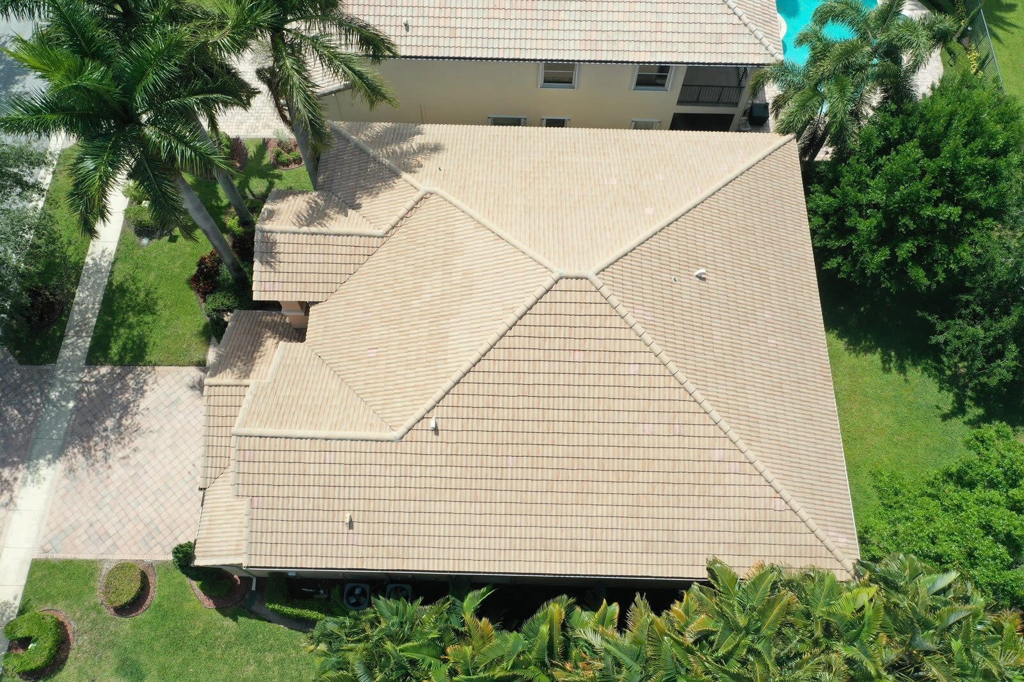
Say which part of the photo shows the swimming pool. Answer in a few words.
top right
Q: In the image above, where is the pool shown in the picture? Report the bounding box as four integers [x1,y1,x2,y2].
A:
[775,0,881,113]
